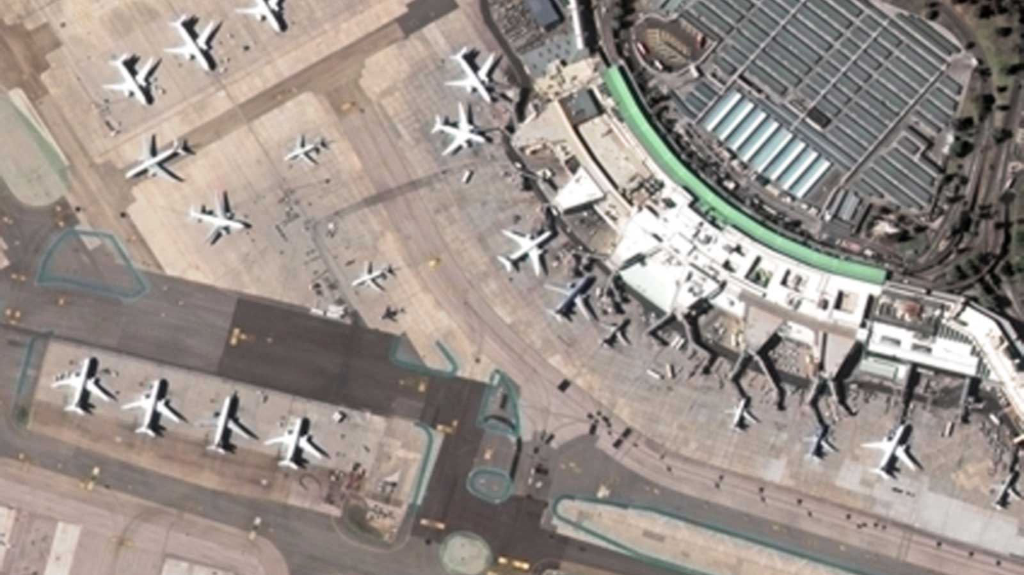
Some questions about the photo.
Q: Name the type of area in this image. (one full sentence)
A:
The picture captures an airport.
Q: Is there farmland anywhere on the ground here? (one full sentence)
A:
No, there's no farmland in this view.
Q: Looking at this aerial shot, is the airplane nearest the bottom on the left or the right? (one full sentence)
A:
The airplane nearest the bottom appears in the right half of the scene.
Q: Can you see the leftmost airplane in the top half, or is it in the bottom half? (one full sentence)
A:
Seen from above, the leftmost airplane lies in the bottom half of the view.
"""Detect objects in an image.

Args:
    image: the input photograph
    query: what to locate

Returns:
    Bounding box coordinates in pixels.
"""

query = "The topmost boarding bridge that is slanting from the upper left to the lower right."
[491,88,523,112]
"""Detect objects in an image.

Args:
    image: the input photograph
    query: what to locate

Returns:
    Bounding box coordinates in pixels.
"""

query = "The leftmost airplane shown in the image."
[49,358,108,414]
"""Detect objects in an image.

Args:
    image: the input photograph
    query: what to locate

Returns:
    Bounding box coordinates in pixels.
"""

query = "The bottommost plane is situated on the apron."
[989,469,1024,513]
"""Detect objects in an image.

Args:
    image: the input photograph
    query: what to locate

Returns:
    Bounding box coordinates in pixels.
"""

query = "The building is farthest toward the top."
[530,0,561,28]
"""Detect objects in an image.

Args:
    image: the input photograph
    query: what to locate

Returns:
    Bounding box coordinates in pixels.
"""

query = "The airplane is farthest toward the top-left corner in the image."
[104,53,155,104]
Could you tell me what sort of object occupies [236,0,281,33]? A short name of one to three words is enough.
airplane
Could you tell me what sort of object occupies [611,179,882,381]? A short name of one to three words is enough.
building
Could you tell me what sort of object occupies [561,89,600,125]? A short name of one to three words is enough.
building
